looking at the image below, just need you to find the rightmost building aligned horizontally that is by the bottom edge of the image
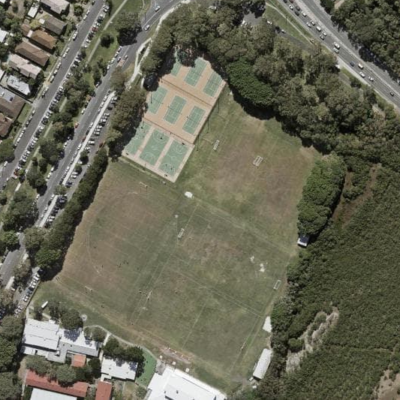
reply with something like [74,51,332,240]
[148,366,226,400]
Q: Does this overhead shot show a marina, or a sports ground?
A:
sports ground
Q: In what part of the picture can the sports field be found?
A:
center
